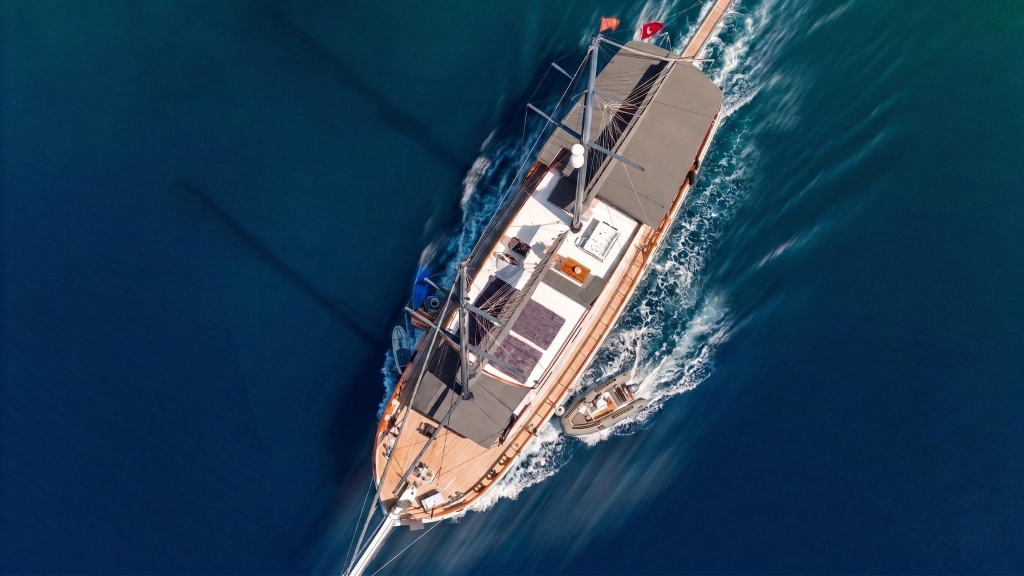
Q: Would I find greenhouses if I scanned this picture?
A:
No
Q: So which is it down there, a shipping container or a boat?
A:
boat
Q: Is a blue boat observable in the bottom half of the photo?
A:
No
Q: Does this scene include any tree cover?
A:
No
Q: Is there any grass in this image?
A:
No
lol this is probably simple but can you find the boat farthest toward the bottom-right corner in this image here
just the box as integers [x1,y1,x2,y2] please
[559,373,647,438]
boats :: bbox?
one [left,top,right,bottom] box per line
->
[336,0,735,576]
[559,373,647,438]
